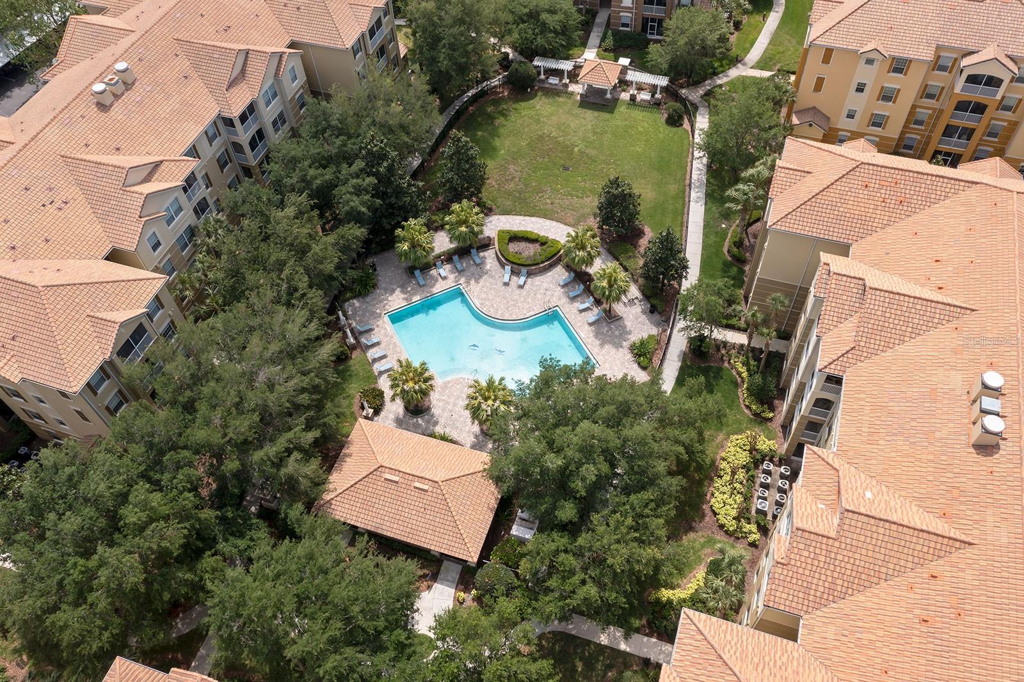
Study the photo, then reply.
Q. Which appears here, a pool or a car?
pool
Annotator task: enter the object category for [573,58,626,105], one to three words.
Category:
gazebo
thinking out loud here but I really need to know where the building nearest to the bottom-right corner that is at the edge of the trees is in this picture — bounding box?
[656,134,1024,682]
